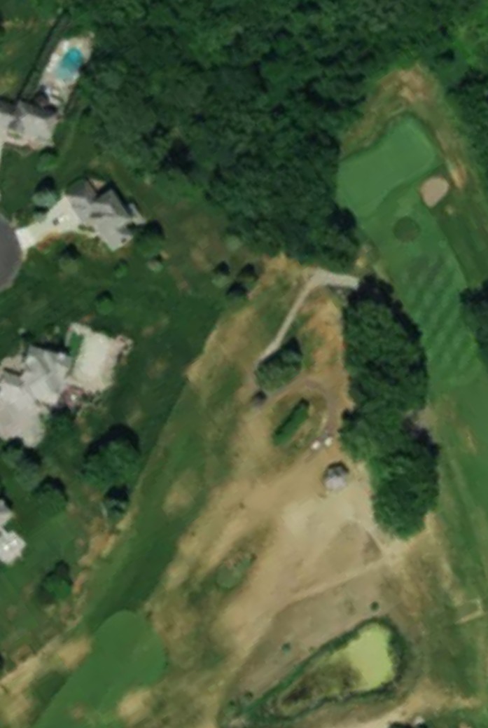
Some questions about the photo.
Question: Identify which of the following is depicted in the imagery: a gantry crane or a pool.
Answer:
pool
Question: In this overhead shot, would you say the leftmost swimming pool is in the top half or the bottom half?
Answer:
top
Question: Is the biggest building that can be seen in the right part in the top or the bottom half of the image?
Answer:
bottom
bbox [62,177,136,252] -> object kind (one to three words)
house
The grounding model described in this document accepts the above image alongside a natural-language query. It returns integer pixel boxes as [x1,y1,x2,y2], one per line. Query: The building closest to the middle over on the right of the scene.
[326,467,346,487]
